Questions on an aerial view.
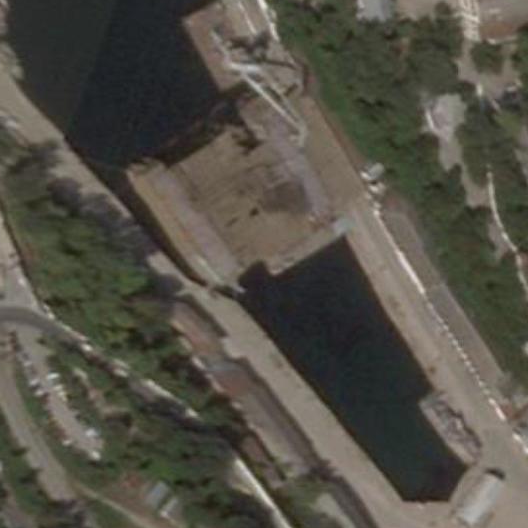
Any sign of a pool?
No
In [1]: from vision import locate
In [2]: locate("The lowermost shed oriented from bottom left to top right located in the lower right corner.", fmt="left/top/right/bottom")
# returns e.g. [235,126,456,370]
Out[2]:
[455,471,505,528]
